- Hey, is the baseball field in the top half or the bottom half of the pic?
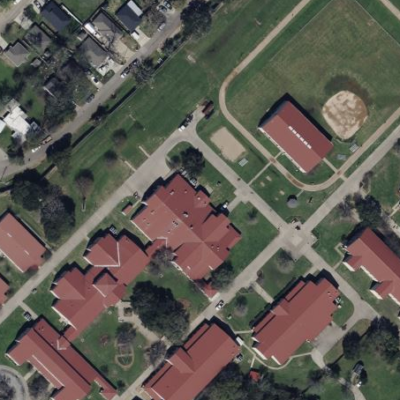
top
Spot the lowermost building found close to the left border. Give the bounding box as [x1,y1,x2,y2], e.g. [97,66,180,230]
[4,319,116,400]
